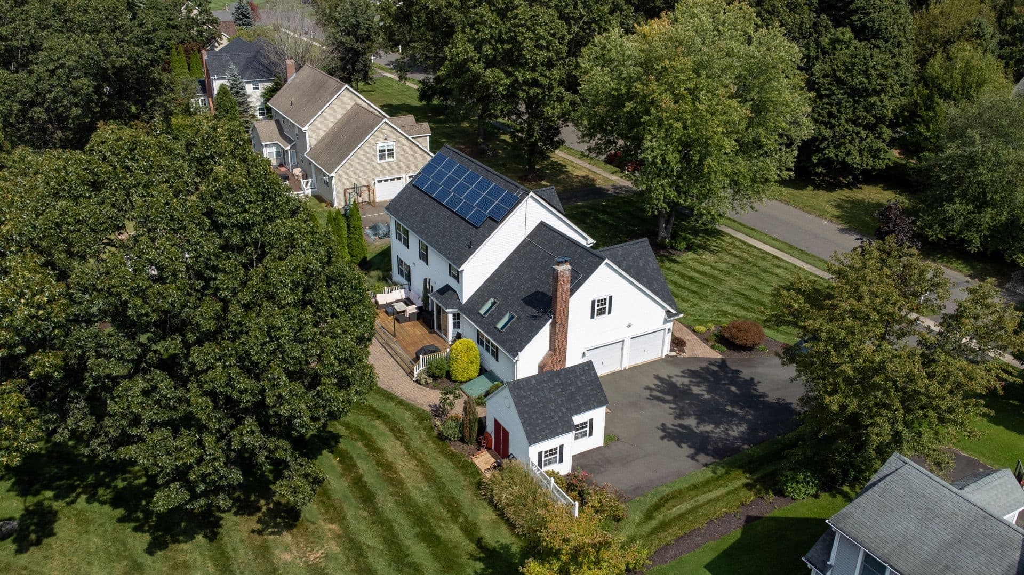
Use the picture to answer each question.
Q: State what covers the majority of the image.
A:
trees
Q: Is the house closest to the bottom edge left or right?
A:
right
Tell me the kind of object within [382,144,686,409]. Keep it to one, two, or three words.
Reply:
house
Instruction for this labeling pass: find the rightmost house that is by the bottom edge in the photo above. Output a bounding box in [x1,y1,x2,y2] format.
[796,449,1024,575]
